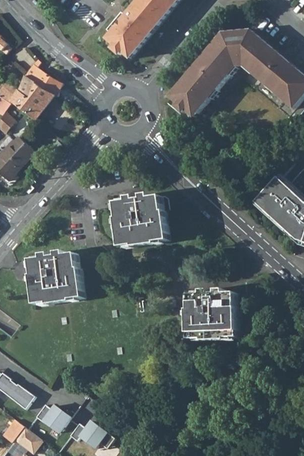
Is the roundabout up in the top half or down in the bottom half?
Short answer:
top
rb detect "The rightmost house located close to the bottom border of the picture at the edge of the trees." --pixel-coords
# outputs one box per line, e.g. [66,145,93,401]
[78,420,108,449]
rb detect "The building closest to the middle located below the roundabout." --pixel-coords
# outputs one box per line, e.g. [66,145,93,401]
[108,192,170,251]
